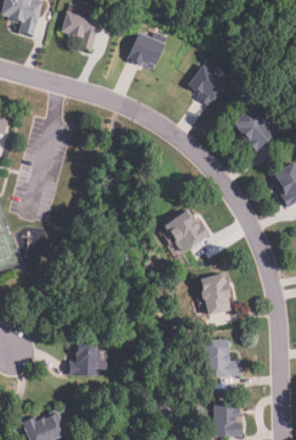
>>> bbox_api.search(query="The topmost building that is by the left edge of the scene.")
[3,0,44,36]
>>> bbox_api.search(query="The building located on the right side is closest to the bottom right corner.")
[214,406,244,440]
